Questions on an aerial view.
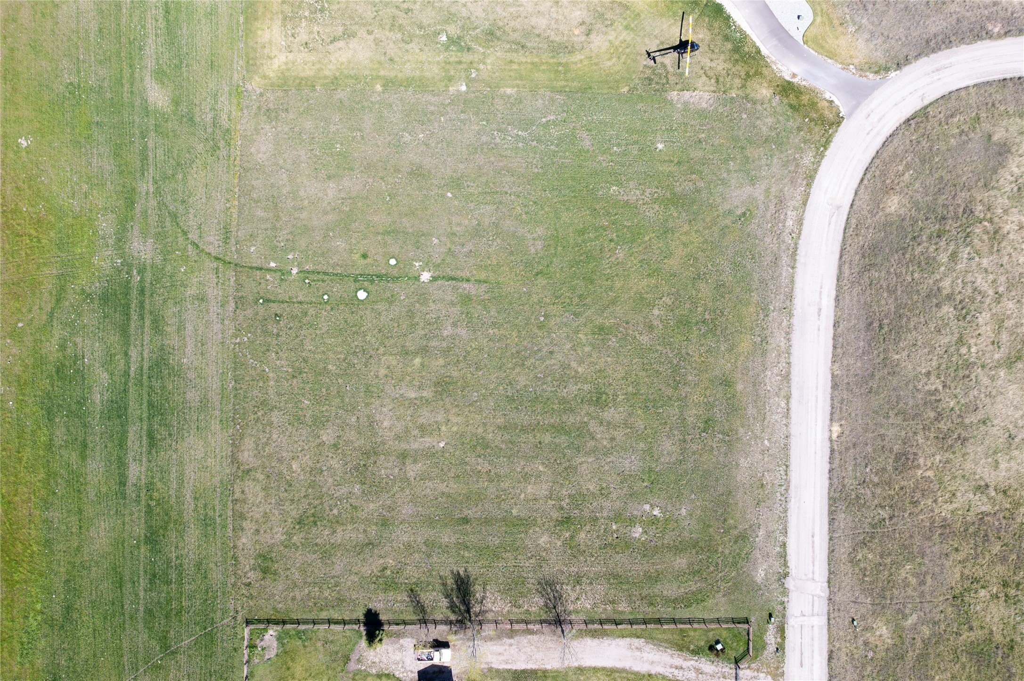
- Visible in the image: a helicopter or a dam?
helicopter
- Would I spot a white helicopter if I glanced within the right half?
No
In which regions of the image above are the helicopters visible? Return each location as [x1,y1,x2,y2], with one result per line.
[646,13,700,75]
